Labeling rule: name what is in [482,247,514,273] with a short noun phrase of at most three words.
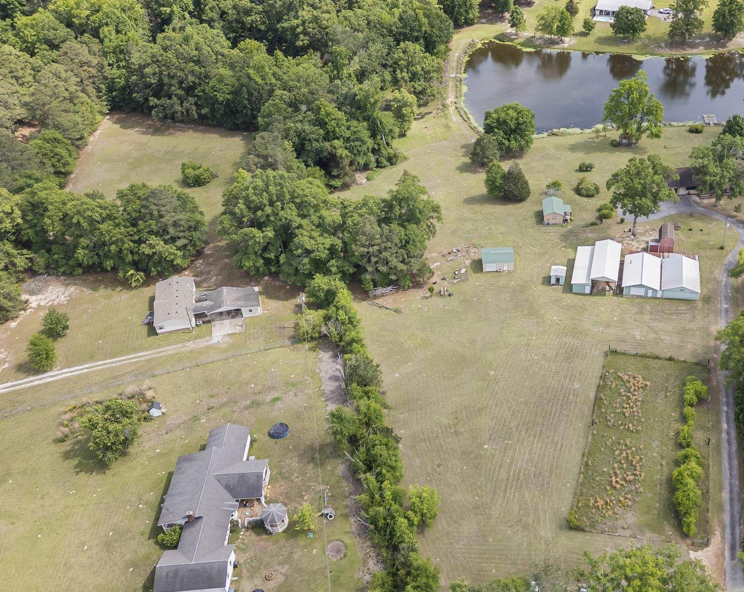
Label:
shed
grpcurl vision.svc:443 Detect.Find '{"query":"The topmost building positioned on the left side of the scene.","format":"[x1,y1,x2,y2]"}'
[137,277,258,336]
